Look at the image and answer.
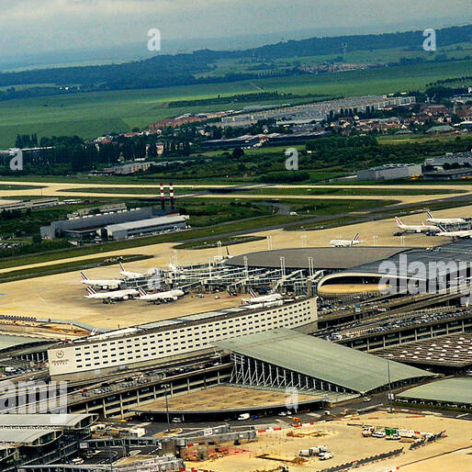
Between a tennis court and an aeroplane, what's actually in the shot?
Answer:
aeroplane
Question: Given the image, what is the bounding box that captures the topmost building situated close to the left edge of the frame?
[0,140,63,157]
